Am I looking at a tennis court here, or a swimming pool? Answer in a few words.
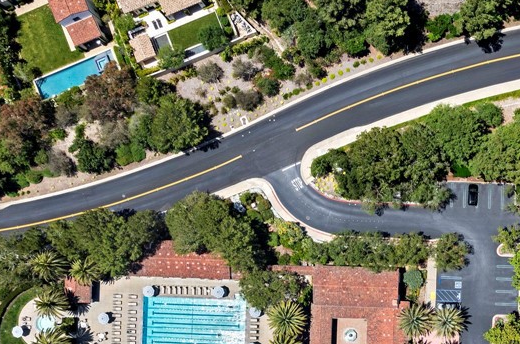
swimming pool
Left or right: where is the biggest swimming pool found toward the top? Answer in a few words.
left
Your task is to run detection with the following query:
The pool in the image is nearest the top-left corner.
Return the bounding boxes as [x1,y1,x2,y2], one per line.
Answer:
[32,47,118,104]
